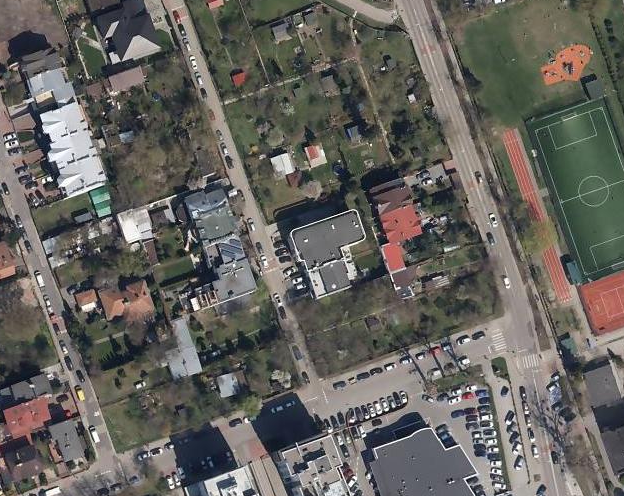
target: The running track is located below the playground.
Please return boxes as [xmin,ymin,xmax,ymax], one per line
[503,127,571,302]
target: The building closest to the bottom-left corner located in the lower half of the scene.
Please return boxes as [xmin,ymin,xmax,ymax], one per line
[0,437,45,481]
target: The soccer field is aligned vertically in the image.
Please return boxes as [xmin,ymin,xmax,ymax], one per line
[527,97,624,284]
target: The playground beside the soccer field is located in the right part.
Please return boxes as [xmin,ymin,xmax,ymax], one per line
[541,44,591,84]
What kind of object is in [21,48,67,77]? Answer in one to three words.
house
